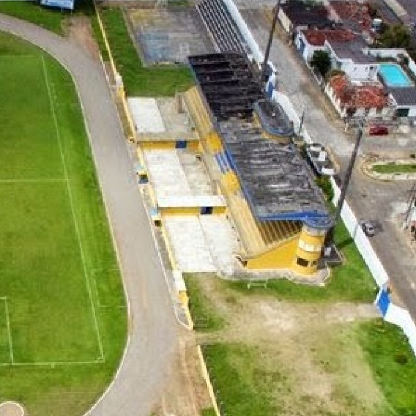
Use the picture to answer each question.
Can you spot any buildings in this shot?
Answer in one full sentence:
Yes, the photo shows a building.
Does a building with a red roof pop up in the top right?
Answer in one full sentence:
Yes, I can see a building with a red roof in the top right.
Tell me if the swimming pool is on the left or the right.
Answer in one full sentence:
The swimming pool is on the right side of the image.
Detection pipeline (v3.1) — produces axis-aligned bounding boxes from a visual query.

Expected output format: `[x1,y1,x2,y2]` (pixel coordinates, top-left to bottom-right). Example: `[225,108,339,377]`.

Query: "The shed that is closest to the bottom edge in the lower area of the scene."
[326,242,355,273]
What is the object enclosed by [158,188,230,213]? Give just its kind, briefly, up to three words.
building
